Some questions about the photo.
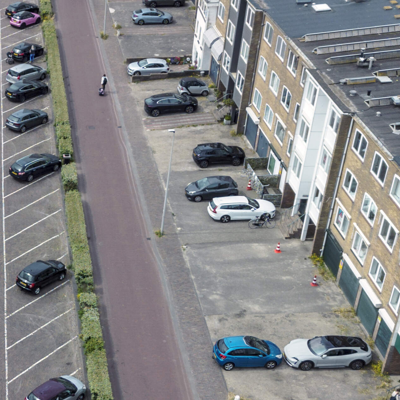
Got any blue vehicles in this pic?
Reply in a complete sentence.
Yes, there's a blue vehicle here.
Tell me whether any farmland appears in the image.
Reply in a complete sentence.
No, no farmland is visible.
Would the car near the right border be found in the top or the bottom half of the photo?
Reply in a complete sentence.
The car near the right border sits in the bottom half of the picture.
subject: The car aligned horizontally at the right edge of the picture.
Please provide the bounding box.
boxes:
[284,334,381,371]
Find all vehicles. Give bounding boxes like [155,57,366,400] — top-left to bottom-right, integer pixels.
[5,151,64,182]
[125,53,172,73]
[7,41,46,63]
[210,335,286,371]
[140,0,186,7]
[140,92,199,116]
[1,63,48,85]
[130,6,175,24]
[2,106,52,132]
[189,140,247,168]
[284,334,381,371]
[7,9,42,28]
[178,74,211,94]
[2,77,52,101]
[181,171,241,202]
[22,375,88,400]
[11,257,70,295]
[205,192,277,222]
